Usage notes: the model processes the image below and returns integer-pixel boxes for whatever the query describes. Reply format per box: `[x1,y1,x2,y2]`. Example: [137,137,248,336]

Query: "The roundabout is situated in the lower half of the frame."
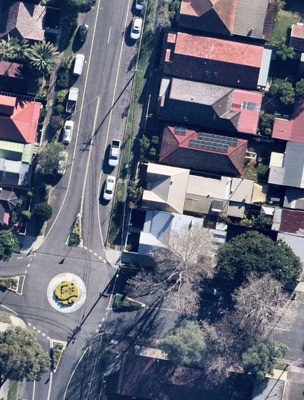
[47,273,86,312]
